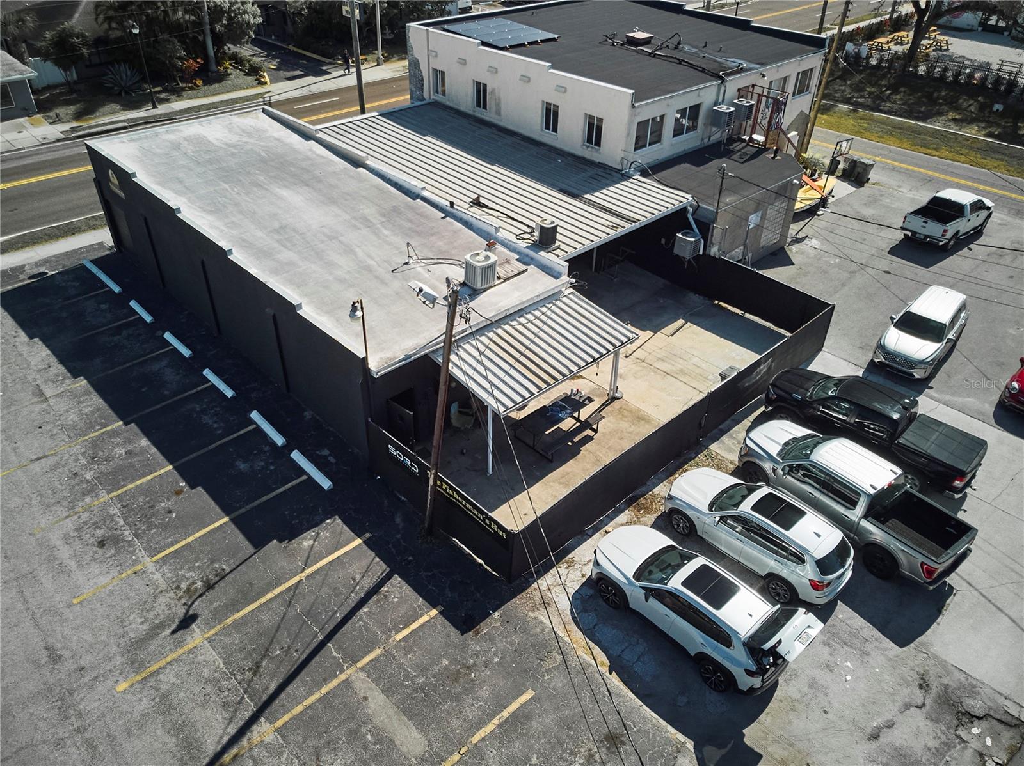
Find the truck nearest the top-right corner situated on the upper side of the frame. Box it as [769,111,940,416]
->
[897,184,1000,246]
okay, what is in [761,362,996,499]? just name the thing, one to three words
truck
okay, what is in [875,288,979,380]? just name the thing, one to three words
car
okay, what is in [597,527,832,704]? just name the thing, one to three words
car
